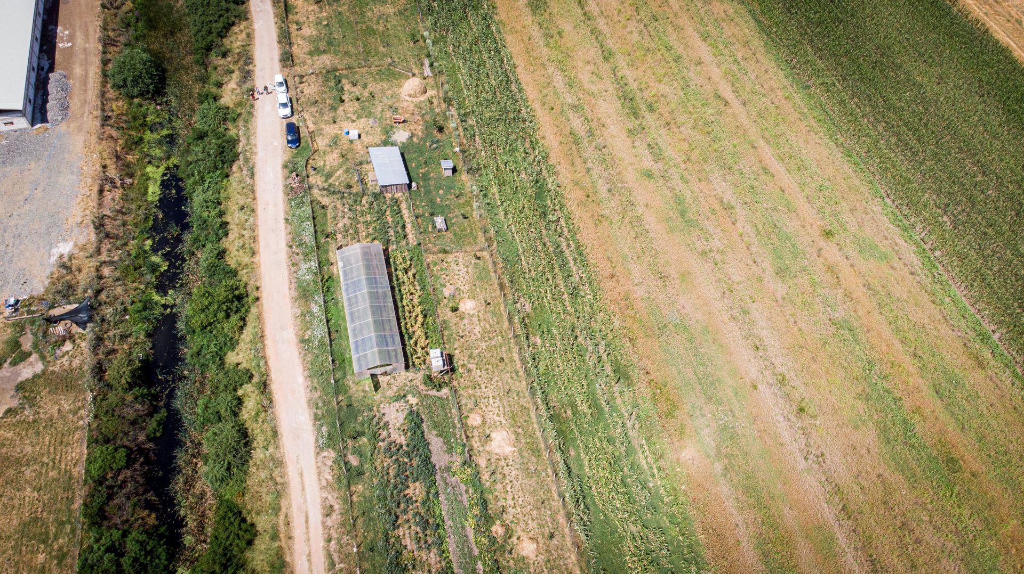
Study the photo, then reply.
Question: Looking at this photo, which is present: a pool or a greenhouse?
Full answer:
Visible in the photo is a greenhouse.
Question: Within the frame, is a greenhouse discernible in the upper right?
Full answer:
No, I see no greenhouse in the upper right.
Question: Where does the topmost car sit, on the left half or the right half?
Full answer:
You can find the topmost car on the left side of the picture.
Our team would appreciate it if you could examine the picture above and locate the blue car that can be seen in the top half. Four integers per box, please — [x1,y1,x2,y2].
[284,121,299,147]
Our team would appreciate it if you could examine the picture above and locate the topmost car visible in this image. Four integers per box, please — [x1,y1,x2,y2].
[269,70,289,93]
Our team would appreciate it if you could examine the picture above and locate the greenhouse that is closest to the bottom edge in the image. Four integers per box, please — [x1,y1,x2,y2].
[335,242,405,390]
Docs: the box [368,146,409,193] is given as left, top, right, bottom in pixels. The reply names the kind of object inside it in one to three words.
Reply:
shed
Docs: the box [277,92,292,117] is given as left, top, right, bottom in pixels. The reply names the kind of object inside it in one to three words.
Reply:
car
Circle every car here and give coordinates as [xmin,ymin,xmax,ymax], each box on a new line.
[284,121,299,147]
[277,92,292,117]
[269,70,289,93]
